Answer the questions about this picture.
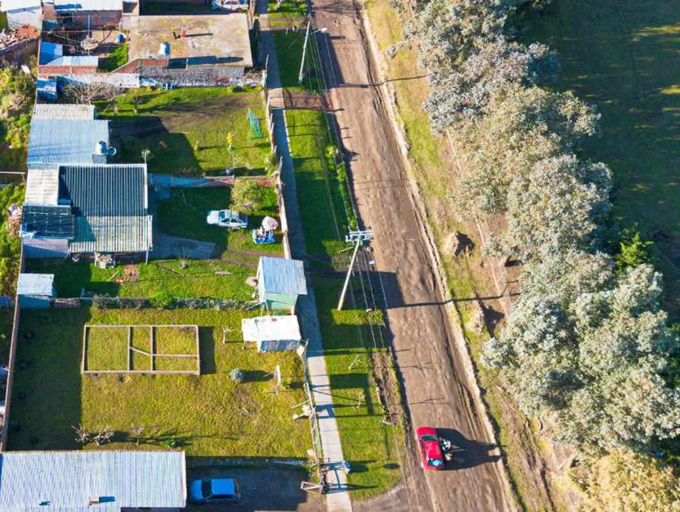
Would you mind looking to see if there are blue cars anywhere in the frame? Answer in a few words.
Yes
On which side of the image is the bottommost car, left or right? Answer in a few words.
left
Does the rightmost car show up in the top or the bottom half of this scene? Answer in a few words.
bottom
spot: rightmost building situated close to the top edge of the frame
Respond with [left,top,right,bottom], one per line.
[114,13,253,79]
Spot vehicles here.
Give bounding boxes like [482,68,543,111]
[415,427,446,474]
[190,478,241,505]
[214,0,250,13]
[206,209,249,230]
